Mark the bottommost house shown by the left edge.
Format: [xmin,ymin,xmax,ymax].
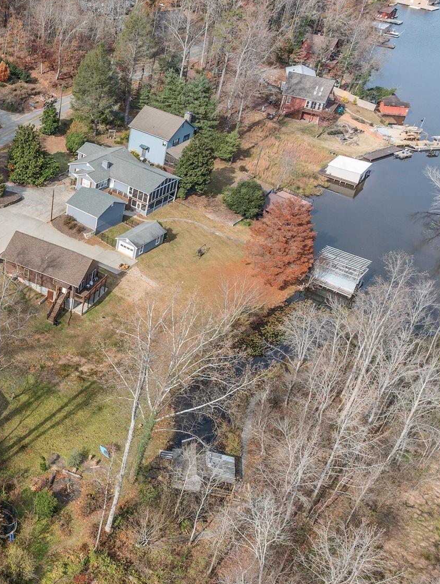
[0,230,115,323]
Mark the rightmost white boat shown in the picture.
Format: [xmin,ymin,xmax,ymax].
[414,134,440,149]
